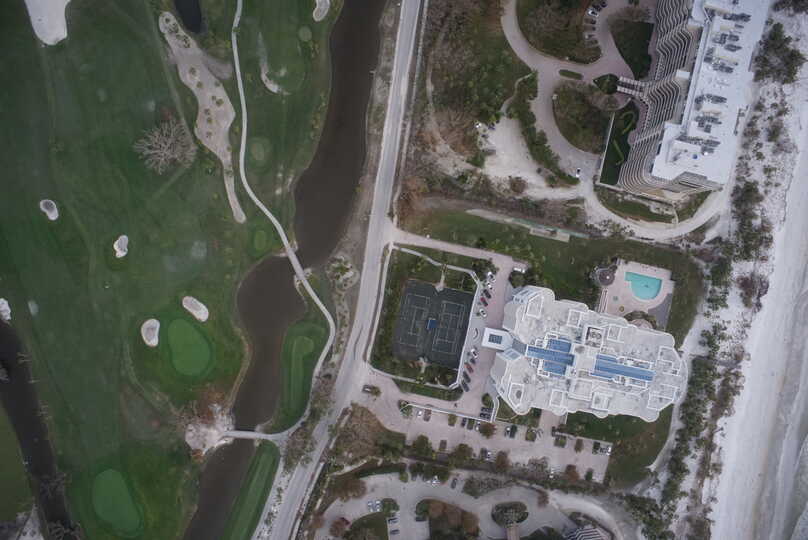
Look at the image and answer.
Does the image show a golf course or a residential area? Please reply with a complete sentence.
This looks like a golf course.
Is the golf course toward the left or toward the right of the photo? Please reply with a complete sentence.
It is on the left.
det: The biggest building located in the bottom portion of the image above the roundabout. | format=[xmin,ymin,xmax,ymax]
[482,283,689,422]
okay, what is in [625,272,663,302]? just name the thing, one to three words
swimming pool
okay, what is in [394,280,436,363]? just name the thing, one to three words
tennis court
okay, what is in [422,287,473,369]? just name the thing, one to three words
tennis court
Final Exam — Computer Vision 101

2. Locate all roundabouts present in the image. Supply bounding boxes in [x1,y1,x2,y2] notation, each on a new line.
[480,491,541,533]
